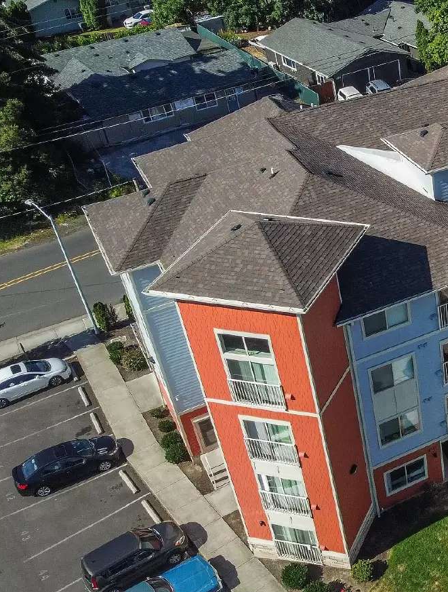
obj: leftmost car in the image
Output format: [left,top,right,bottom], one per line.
[0,361,67,408]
